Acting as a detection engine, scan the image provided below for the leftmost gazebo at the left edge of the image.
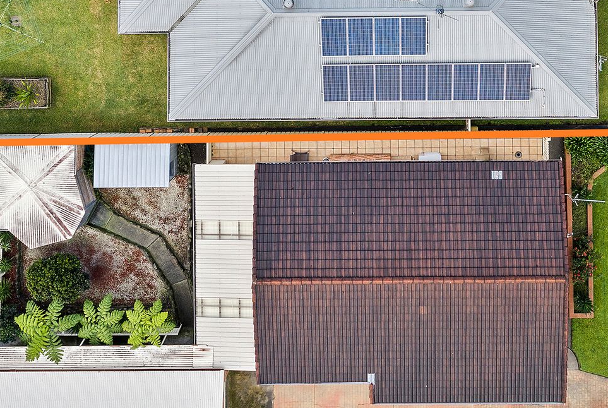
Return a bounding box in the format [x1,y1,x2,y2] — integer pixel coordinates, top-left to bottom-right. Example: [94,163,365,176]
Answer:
[0,143,96,247]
